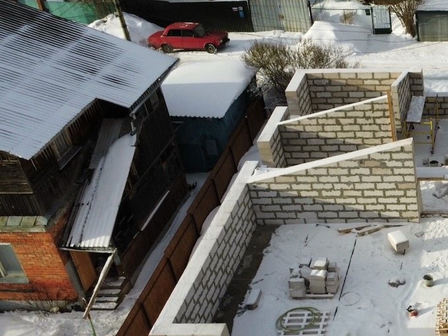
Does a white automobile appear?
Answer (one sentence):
No, there isn't any white automobile down there.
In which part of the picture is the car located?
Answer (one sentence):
The car is located in the top region of the scene.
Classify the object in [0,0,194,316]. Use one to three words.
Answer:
house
